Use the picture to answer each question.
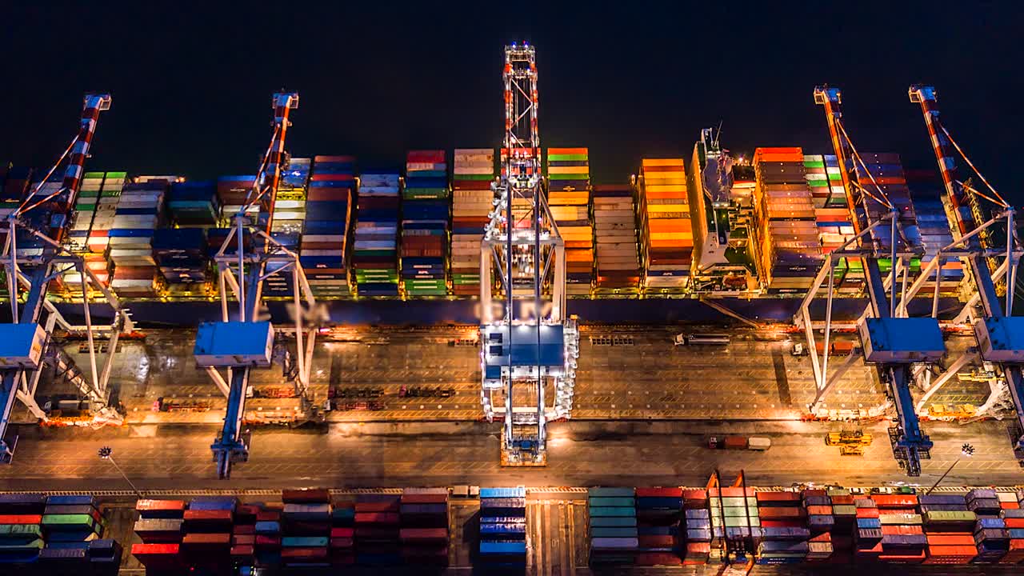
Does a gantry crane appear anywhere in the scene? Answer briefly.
Yes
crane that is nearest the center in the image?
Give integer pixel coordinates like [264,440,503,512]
[467,47,578,465]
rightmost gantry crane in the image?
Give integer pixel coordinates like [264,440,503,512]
[898,86,1024,481]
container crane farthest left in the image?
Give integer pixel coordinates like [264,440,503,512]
[0,86,144,481]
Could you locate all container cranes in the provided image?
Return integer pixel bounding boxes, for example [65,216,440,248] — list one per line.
[467,47,578,465]
[185,86,334,481]
[898,86,1024,481]
[0,86,144,481]
[781,86,947,481]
